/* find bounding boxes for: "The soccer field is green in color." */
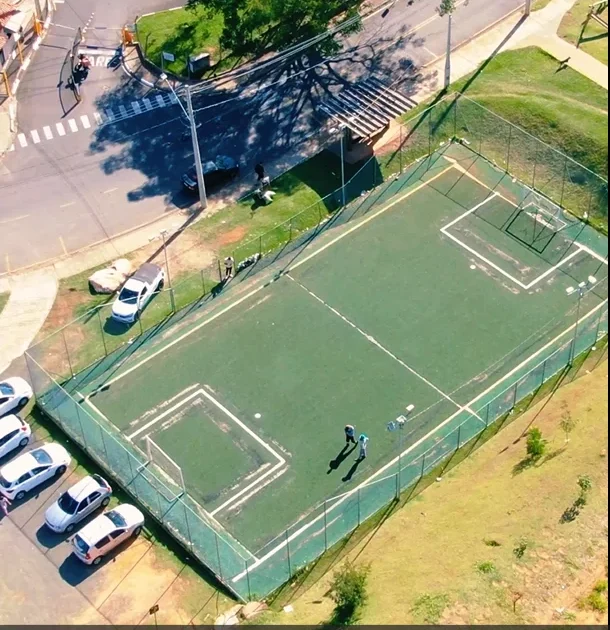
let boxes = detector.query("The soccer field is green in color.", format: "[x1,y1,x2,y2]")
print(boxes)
[34,137,610,616]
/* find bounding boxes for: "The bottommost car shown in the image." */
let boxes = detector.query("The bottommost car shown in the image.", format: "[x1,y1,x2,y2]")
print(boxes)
[71,503,143,562]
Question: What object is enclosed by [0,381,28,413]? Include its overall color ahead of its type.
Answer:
white car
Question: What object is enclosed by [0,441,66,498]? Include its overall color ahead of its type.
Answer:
white car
